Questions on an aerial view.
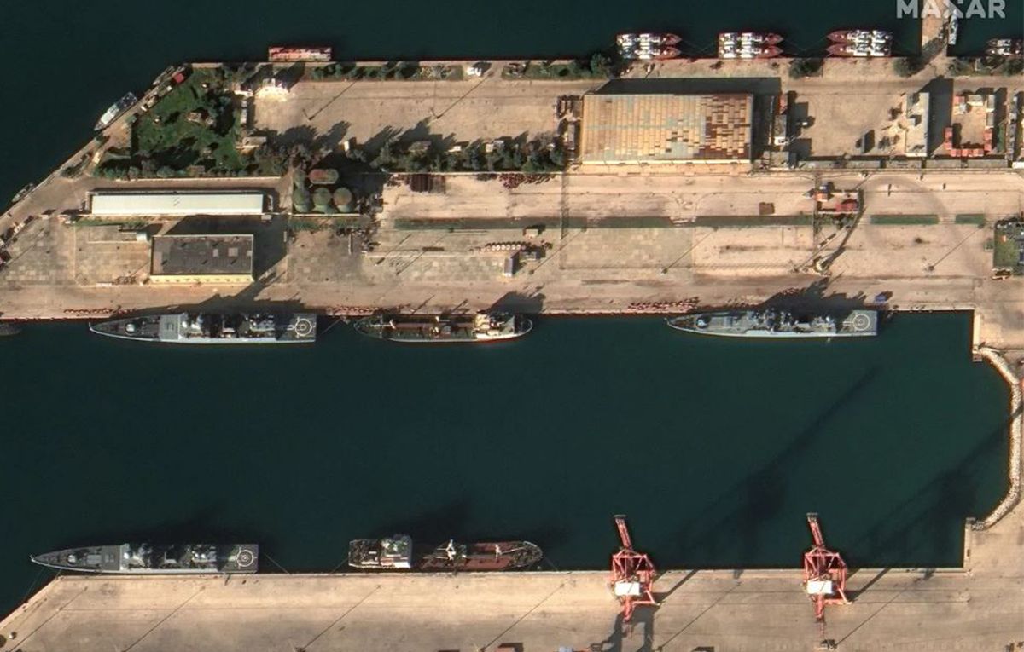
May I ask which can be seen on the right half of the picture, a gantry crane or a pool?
gantry crane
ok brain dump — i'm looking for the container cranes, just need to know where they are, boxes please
[804,515,855,630]
[611,517,663,631]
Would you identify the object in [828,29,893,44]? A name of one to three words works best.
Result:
boat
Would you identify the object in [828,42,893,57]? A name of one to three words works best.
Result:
boat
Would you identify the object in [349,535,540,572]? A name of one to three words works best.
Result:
ship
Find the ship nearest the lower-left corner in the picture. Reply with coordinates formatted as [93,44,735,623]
[30,545,259,575]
